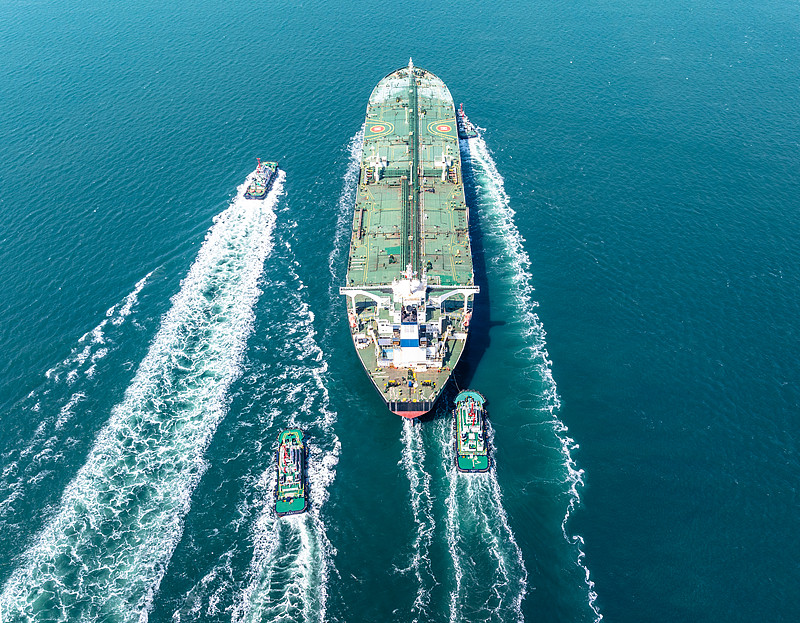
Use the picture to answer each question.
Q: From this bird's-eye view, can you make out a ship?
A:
Yes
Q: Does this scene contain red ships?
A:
No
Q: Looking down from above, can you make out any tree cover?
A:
No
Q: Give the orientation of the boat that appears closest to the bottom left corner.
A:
vertically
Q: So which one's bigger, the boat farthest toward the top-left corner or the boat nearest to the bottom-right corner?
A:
the boat nearest to the bottom-right corner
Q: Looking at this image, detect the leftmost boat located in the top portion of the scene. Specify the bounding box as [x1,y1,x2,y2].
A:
[246,158,278,202]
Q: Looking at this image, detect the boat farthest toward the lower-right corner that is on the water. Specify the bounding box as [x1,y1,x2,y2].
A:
[453,388,490,474]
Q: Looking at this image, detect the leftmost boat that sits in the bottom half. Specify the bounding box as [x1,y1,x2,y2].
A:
[273,425,309,521]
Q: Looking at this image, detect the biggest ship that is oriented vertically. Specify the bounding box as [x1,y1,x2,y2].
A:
[339,59,483,421]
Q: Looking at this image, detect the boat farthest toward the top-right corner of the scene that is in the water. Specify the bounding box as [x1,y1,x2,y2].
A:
[455,104,479,139]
